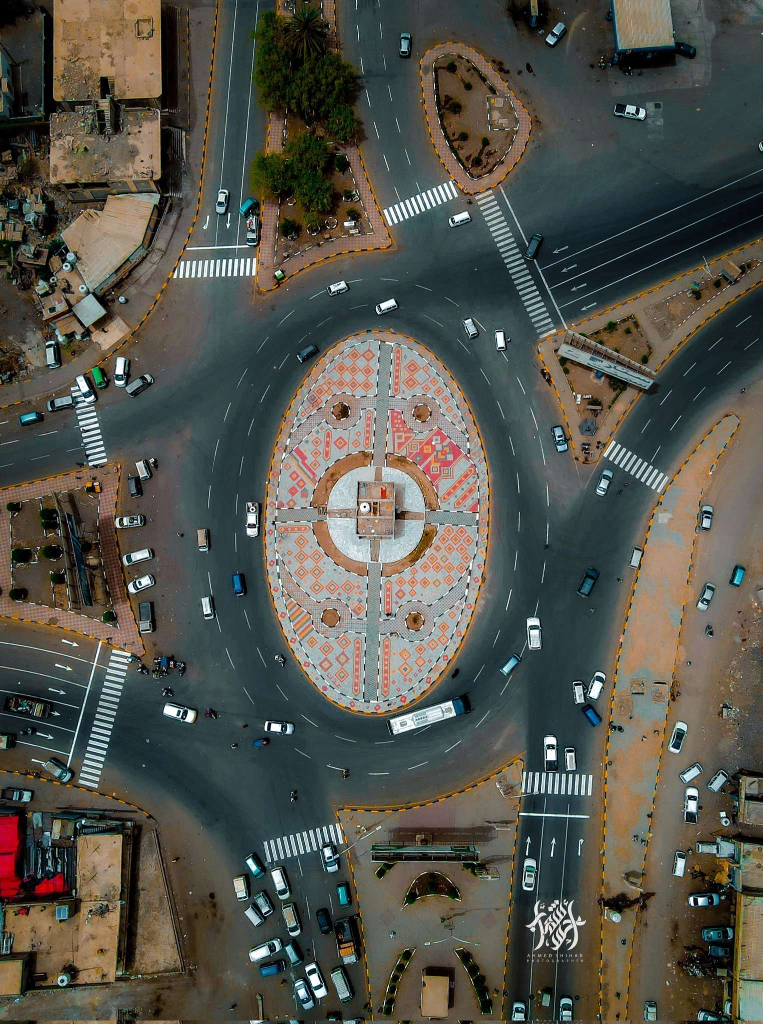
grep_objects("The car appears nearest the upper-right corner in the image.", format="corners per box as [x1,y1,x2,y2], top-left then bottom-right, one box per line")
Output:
[668,38,696,58]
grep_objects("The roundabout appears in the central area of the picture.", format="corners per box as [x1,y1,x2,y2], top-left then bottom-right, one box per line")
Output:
[263,329,491,716]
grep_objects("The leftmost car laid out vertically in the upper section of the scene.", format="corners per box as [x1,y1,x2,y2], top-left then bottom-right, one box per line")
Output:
[44,341,60,369]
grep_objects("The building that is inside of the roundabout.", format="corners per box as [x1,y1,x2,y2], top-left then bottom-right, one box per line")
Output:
[357,481,395,543]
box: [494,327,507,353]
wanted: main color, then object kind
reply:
white vehicle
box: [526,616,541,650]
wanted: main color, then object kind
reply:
white car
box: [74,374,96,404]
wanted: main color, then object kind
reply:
white vehicle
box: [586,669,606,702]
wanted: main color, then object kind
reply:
white car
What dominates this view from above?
paved ground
